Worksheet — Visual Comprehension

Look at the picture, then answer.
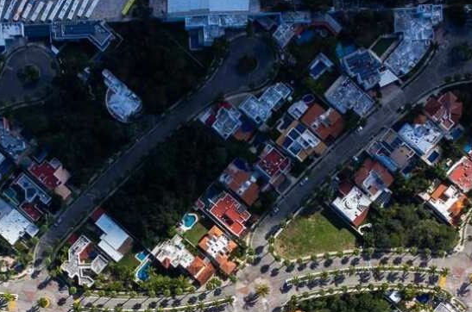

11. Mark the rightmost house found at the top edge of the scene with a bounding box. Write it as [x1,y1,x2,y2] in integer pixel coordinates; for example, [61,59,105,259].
[379,4,443,87]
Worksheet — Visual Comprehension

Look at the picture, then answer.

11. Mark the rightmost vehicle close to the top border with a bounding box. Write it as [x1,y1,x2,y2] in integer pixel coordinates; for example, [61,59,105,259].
[121,0,135,16]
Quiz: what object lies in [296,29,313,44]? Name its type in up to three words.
swimming pool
